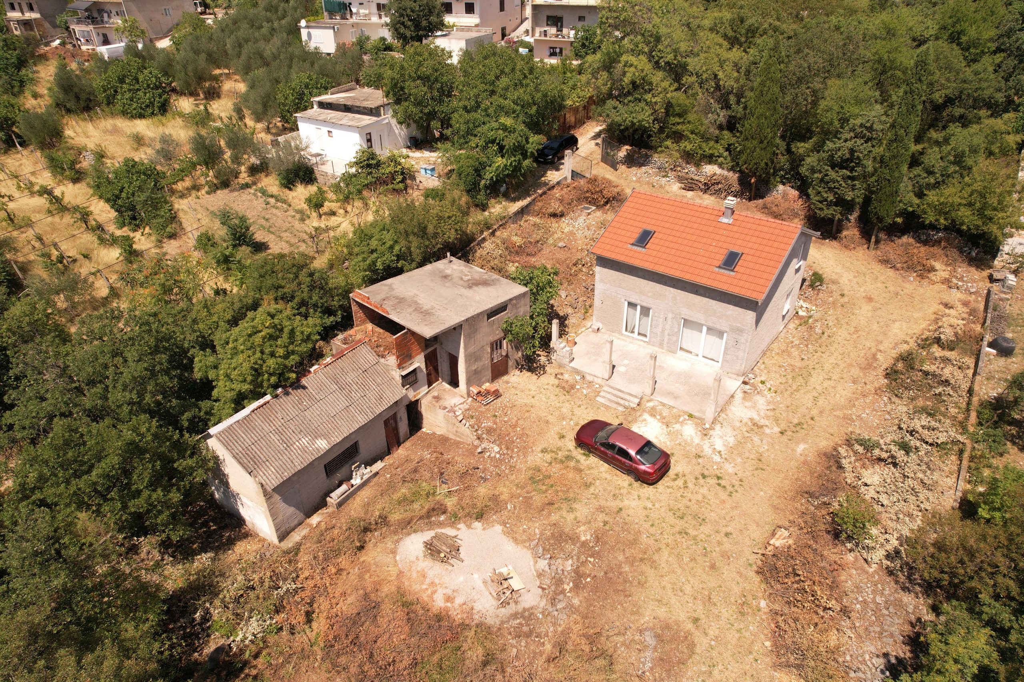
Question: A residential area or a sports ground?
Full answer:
This looks like a residential area.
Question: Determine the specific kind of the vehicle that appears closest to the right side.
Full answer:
It turns out the vehicle that appears closest to the right side is a car.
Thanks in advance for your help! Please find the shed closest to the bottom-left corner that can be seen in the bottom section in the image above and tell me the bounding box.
[203,338,411,544]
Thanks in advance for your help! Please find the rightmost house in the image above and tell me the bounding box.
[588,188,822,382]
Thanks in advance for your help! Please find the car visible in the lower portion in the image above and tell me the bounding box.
[574,416,676,487]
